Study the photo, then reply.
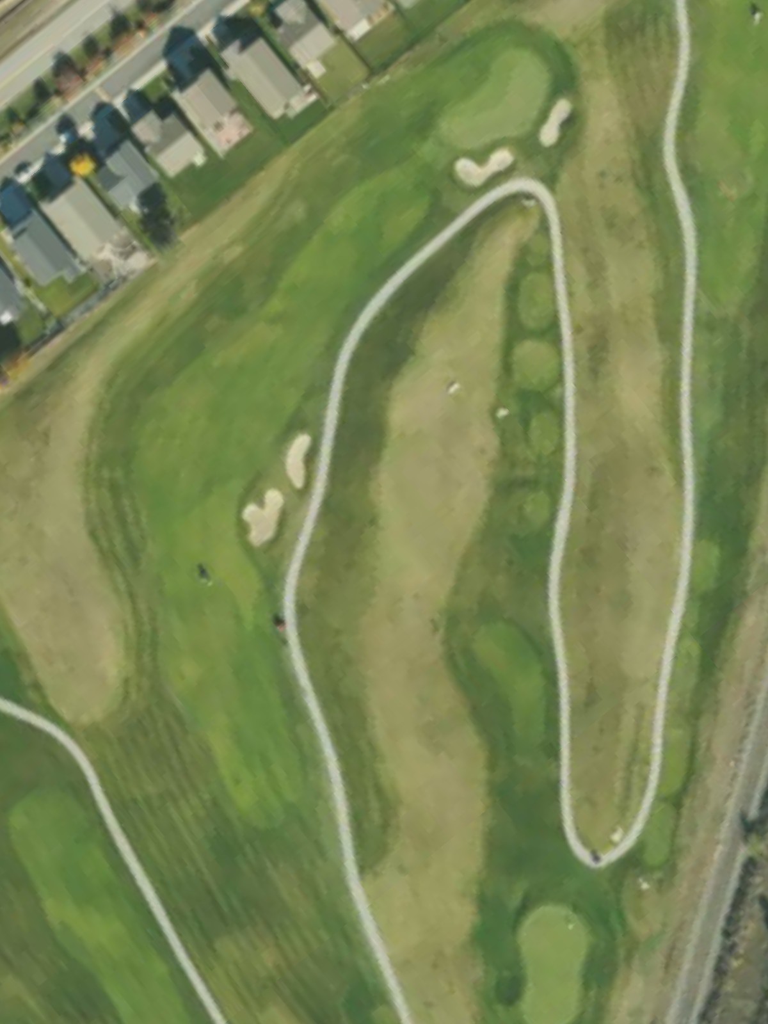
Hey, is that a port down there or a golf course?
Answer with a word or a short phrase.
golf course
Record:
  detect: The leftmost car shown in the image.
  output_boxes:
[17,163,36,180]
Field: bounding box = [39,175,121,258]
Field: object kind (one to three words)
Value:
house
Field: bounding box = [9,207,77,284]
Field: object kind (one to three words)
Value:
house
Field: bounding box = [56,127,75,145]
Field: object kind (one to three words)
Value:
vehicle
